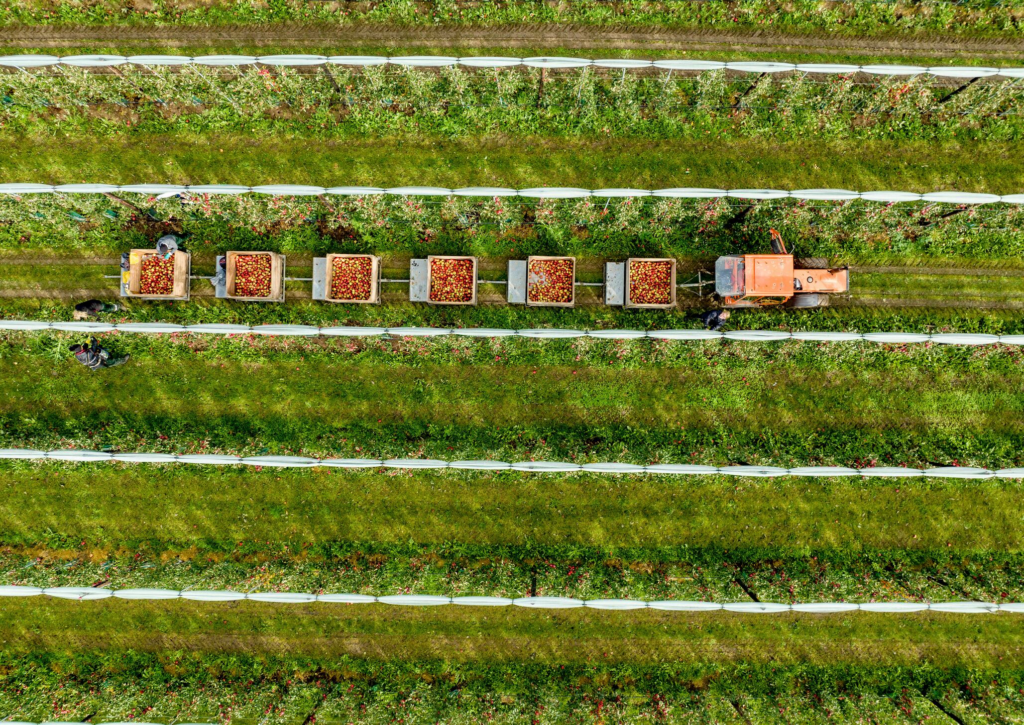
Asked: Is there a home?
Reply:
No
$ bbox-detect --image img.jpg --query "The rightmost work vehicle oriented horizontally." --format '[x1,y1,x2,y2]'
[682,229,852,308]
